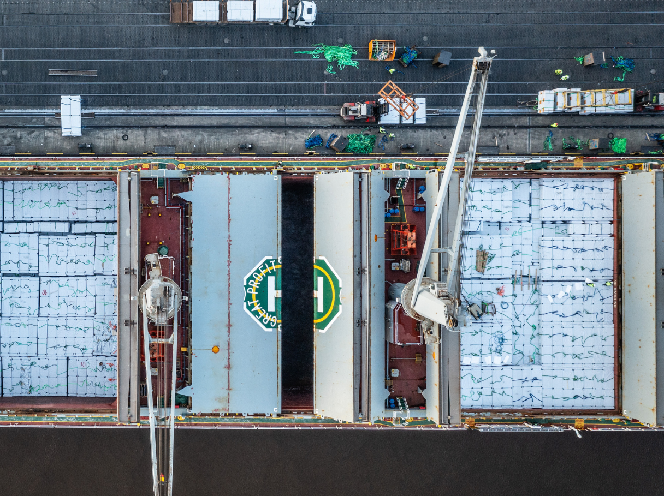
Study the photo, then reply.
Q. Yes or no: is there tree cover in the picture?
No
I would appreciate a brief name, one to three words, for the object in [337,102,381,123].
work vehicle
